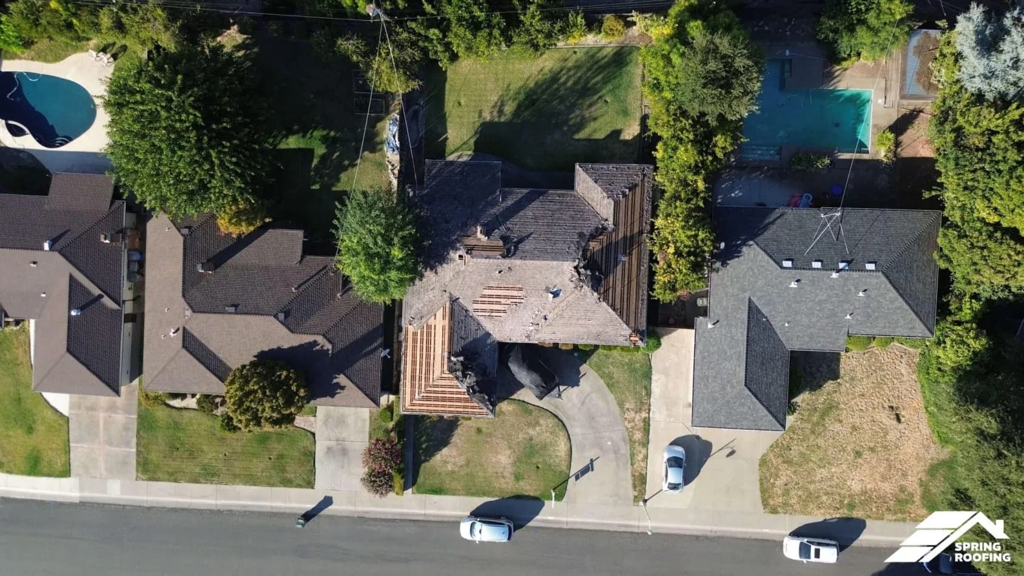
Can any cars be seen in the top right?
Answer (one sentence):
No, there is no car in the top right.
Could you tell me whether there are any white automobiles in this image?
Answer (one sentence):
Yes, the frame does contain a white automobile.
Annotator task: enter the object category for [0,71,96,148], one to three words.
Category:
swimming pool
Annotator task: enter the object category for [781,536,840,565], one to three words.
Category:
car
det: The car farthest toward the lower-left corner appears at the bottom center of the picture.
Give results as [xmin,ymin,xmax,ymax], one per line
[459,515,513,544]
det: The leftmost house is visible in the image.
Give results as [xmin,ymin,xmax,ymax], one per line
[0,173,136,397]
